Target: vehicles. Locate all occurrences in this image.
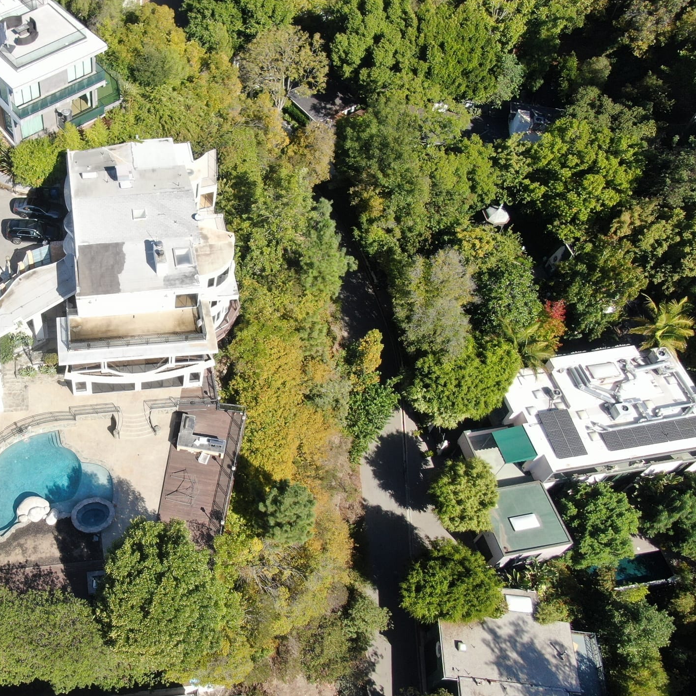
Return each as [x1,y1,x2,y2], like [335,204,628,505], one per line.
[8,199,67,225]
[3,219,63,249]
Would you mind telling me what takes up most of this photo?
trees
